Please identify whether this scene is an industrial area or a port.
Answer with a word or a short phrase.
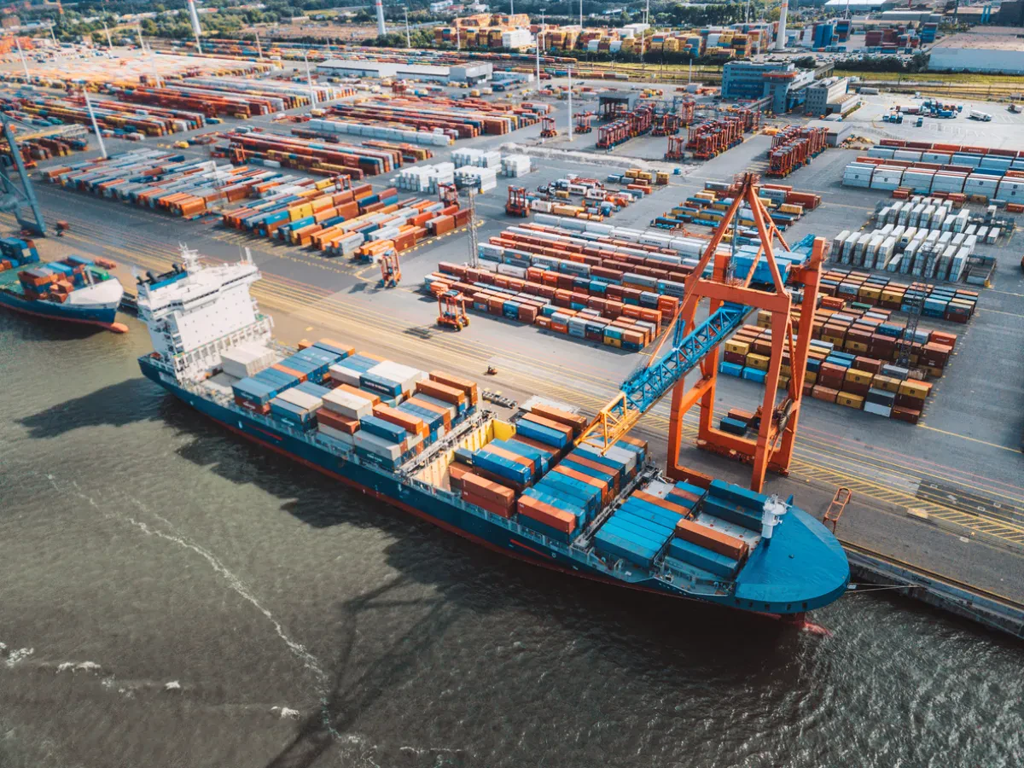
port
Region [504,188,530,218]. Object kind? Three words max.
work vehicle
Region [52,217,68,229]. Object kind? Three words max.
vehicle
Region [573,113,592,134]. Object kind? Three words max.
work vehicle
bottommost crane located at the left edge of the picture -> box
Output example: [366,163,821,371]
[0,89,107,247]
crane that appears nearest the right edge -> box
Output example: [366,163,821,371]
[567,164,826,492]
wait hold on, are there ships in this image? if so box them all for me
[0,246,131,333]
[123,239,916,634]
